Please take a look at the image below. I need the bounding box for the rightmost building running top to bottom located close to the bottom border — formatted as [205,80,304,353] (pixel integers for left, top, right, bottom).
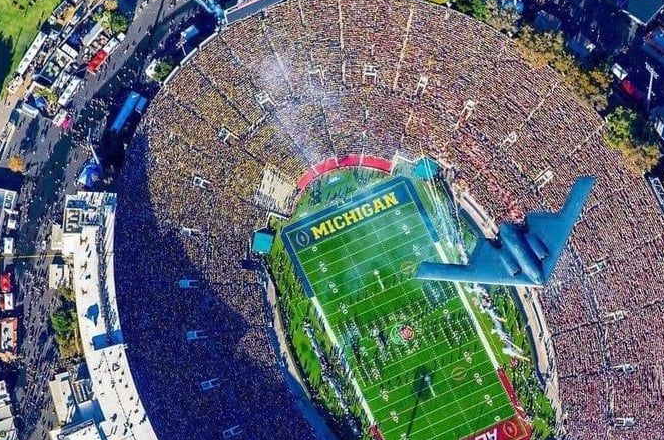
[51,373,79,428]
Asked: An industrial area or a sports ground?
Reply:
sports ground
